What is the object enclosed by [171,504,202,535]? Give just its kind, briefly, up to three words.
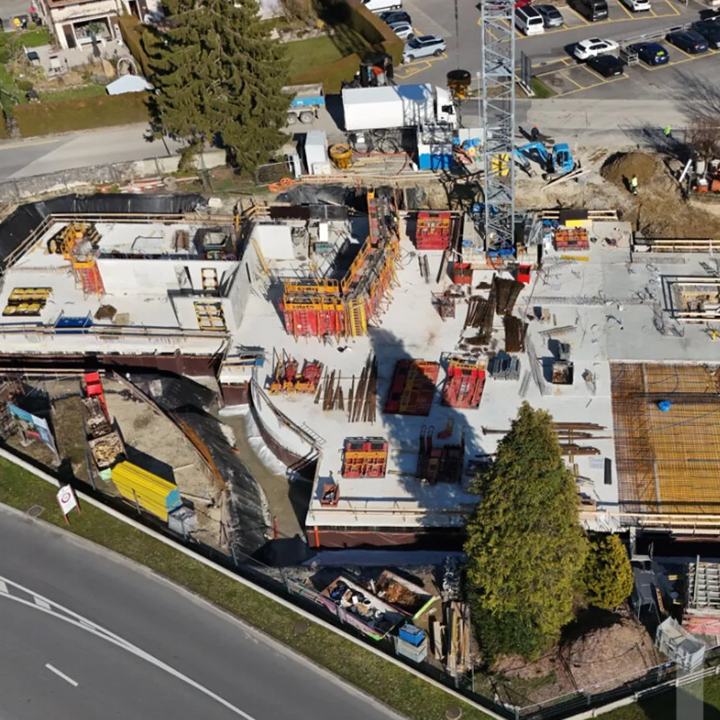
storage tank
